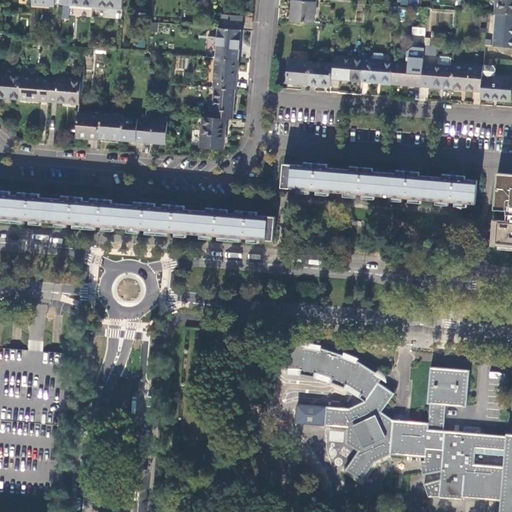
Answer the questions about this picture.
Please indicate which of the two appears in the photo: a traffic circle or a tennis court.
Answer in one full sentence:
There is a traffic circle in the scene.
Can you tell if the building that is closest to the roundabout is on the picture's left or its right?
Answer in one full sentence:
It is on the left.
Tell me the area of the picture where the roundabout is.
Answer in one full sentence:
The roundabout sits in the left section of the image.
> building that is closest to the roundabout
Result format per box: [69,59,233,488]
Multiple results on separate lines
[0,192,274,248]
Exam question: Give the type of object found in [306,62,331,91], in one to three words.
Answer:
house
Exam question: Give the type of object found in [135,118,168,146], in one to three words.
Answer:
house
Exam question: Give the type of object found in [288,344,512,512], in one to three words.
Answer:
building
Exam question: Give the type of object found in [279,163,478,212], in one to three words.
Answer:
building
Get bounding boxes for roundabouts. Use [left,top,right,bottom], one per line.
[84,254,177,321]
